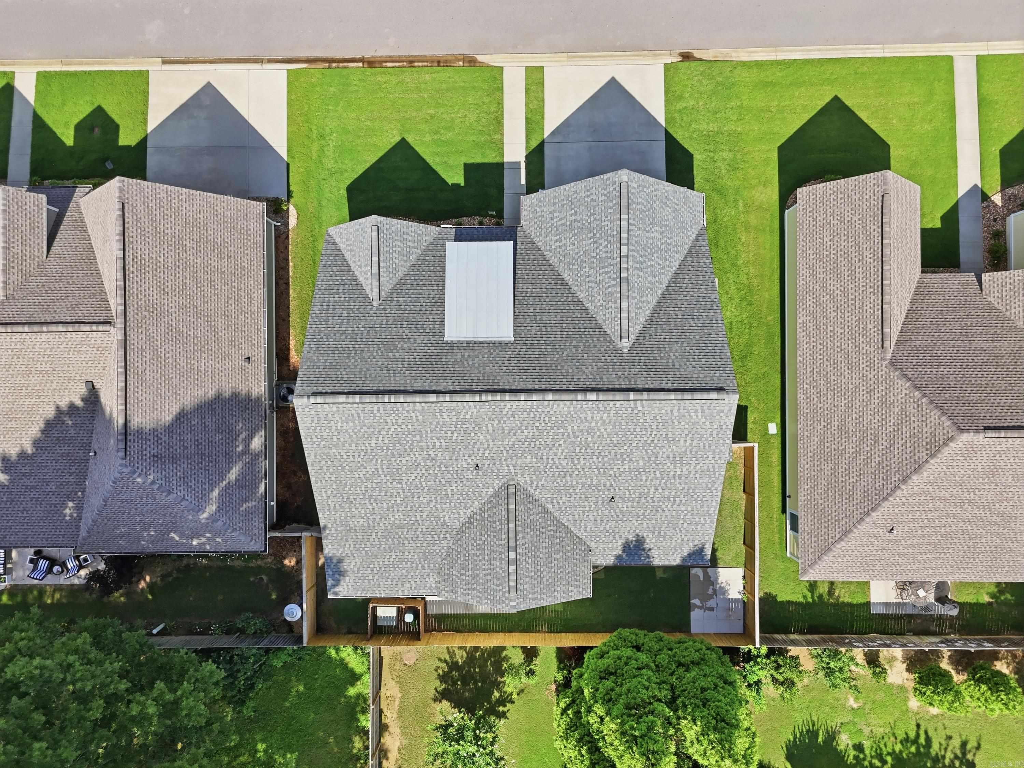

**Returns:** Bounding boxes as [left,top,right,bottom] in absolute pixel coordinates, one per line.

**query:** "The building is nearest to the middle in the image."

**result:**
[294,168,739,612]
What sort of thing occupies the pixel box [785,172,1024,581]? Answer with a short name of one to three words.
house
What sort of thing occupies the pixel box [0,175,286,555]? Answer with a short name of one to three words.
house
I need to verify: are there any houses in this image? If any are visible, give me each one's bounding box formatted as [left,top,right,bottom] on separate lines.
[294,168,739,612]
[785,172,1024,581]
[0,175,286,555]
